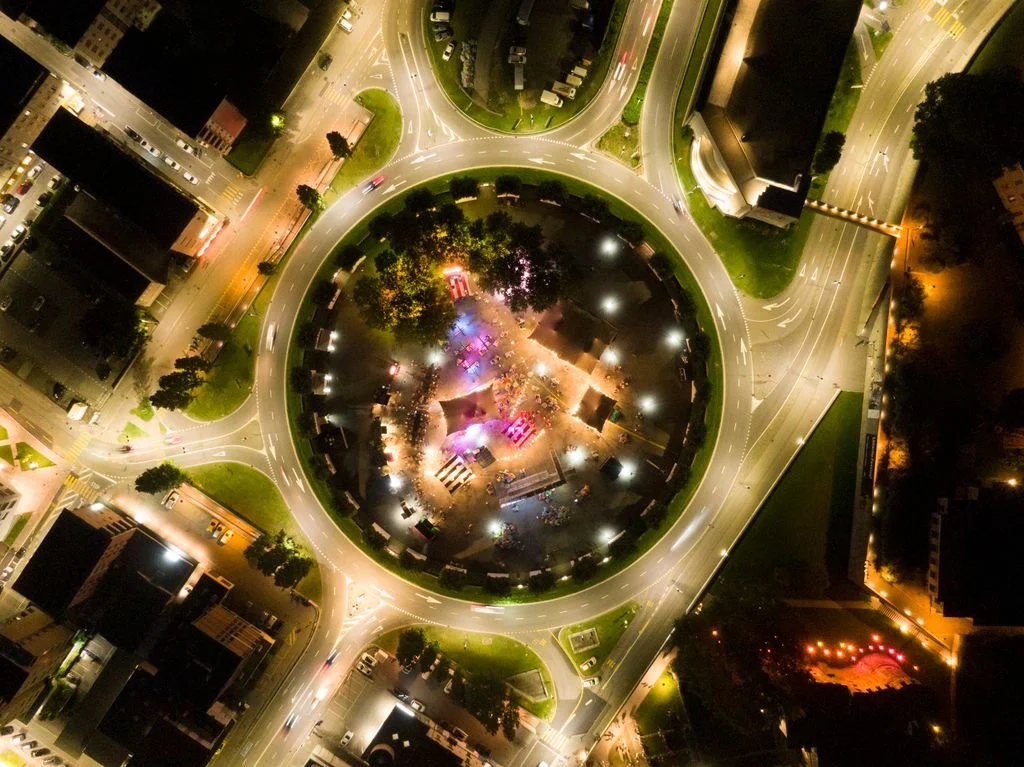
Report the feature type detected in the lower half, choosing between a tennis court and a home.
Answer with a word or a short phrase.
home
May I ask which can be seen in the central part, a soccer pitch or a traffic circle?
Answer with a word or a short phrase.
traffic circle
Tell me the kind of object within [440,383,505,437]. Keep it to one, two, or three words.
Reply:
tent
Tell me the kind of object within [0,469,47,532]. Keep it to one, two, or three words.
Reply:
house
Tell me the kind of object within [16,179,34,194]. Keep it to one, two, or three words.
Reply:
car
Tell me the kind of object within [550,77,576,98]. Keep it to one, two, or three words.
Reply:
truck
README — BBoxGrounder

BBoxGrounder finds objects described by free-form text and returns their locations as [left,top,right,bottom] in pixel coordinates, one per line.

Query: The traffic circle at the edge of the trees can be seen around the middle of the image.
[257,137,753,633]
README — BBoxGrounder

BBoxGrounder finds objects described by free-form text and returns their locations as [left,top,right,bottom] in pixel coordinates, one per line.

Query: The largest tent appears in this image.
[523,302,618,378]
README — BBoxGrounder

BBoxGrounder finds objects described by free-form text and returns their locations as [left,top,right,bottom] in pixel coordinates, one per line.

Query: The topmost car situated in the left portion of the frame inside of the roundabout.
[365,177,382,192]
